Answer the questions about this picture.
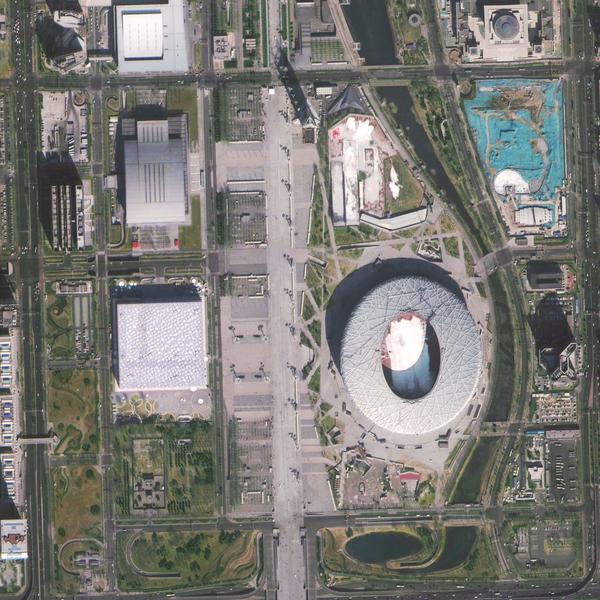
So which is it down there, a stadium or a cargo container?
stadium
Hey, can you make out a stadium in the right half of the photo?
Yes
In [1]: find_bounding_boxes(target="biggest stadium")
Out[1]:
[341,274,481,435]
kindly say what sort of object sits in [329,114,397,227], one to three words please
building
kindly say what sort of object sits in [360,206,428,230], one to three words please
building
